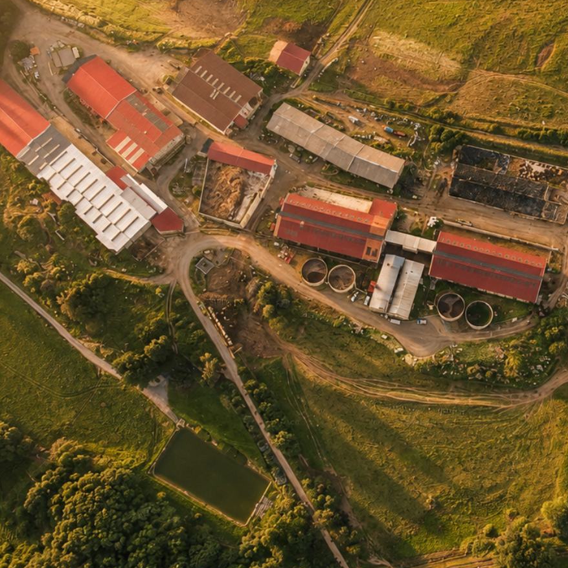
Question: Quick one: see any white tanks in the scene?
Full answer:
No, there appears to be no white tank in this shot.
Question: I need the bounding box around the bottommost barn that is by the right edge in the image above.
[428,231,548,304]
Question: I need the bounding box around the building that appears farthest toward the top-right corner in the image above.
[448,145,568,225]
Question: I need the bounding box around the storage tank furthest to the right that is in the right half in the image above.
[466,301,494,329]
